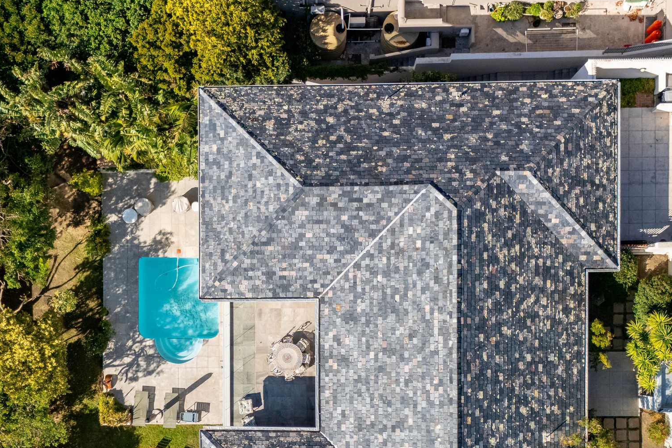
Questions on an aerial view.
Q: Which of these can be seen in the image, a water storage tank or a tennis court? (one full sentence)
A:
The image shows a water storage tank.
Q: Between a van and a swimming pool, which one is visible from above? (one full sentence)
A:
The one in the frame is a swimming pool.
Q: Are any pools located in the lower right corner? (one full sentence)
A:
No, I can find no pool in the lower right corner.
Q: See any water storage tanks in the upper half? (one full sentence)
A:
Yes, I can see a water storage tank in the upper half.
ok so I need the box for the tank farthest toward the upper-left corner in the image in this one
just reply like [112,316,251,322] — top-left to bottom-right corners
[310,13,345,59]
